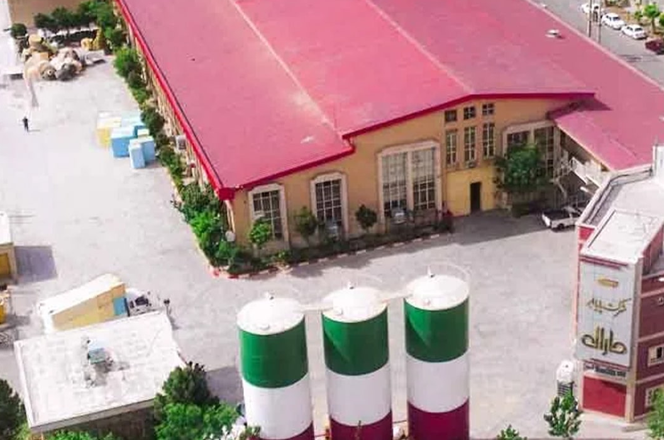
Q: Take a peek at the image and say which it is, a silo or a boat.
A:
silo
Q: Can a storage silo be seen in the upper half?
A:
No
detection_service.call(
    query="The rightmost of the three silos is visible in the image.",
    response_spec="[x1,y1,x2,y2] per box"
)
[405,268,471,440]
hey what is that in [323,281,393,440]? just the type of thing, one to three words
silo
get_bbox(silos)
[323,281,393,440]
[405,268,471,440]
[238,291,313,440]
